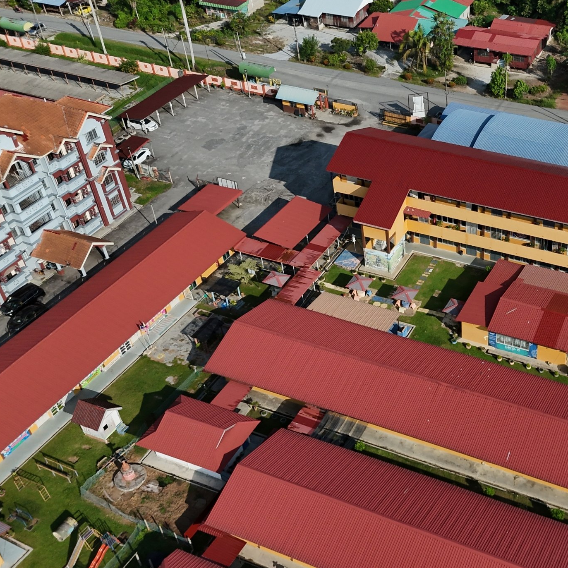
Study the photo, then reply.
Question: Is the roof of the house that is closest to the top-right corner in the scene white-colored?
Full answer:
No, the roof of the house that is closest to the top-right corner is red.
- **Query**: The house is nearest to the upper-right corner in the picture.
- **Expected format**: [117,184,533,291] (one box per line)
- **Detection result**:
[451,12,558,70]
